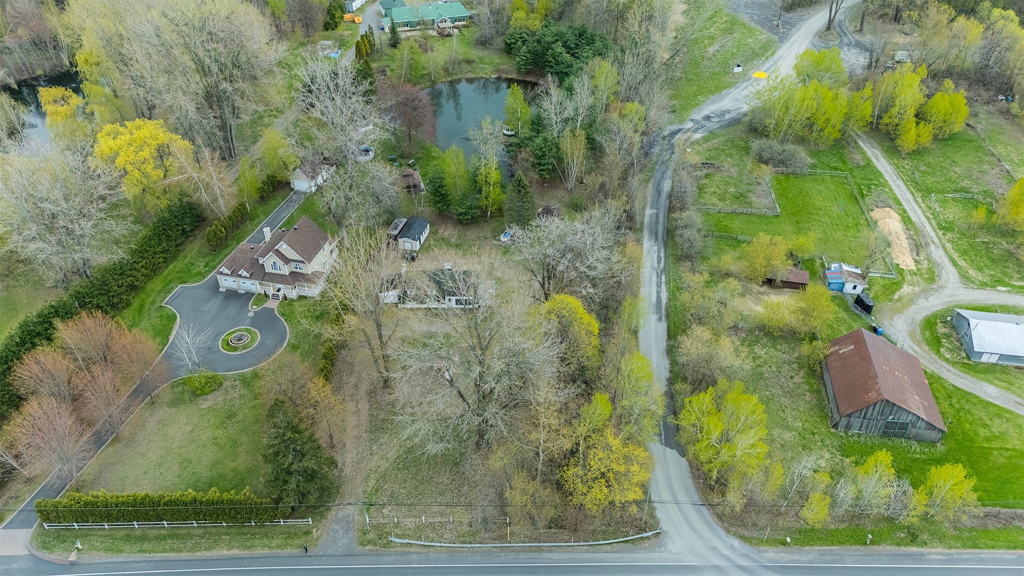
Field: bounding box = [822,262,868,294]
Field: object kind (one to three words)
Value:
shed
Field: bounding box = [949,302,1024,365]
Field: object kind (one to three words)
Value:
barn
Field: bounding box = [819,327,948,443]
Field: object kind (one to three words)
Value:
barn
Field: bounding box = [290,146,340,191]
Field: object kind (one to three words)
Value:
building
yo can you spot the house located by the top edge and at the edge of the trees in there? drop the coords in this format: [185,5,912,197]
[377,0,470,32]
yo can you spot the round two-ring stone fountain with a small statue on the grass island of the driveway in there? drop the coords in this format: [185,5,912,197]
[227,329,251,347]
